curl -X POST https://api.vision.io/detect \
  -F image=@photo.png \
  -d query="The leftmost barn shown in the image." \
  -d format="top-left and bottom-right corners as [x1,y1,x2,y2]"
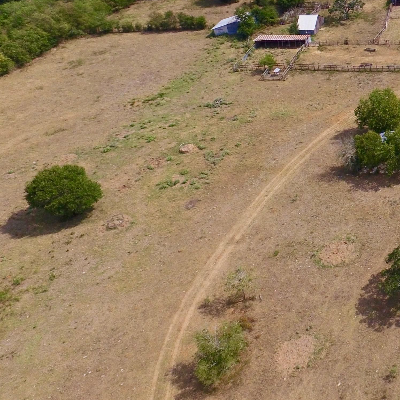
[211,10,264,36]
